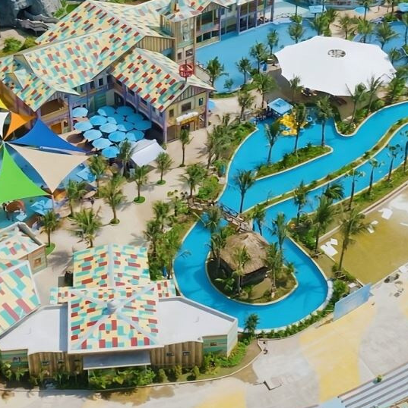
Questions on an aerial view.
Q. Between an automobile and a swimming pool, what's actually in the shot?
swimming pool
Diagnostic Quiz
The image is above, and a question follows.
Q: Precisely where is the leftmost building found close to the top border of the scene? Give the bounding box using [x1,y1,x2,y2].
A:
[0,0,276,147]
